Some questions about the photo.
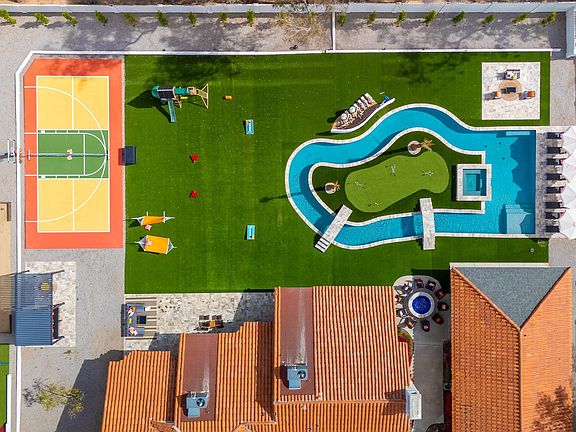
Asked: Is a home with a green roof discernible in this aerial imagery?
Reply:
No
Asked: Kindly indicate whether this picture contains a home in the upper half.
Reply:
No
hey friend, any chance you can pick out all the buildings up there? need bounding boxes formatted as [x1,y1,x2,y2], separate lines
[452,267,574,432]
[100,287,421,432]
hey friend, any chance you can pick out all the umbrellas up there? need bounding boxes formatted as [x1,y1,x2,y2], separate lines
[556,182,576,211]
[555,209,576,242]
[557,122,576,155]
[557,153,576,183]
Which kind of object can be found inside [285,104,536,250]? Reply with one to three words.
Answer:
swimming pool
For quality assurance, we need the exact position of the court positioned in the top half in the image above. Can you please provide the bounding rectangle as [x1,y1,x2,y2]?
[24,60,124,248]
